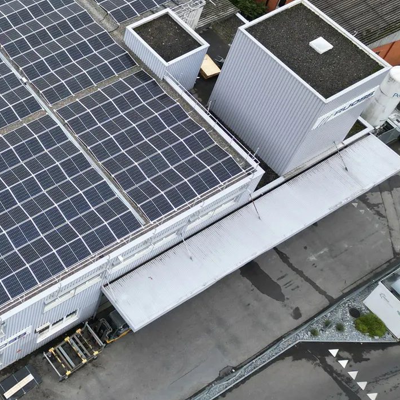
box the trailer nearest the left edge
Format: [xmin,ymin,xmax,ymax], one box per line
[41,323,104,382]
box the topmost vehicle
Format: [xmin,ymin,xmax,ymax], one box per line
[93,305,127,346]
